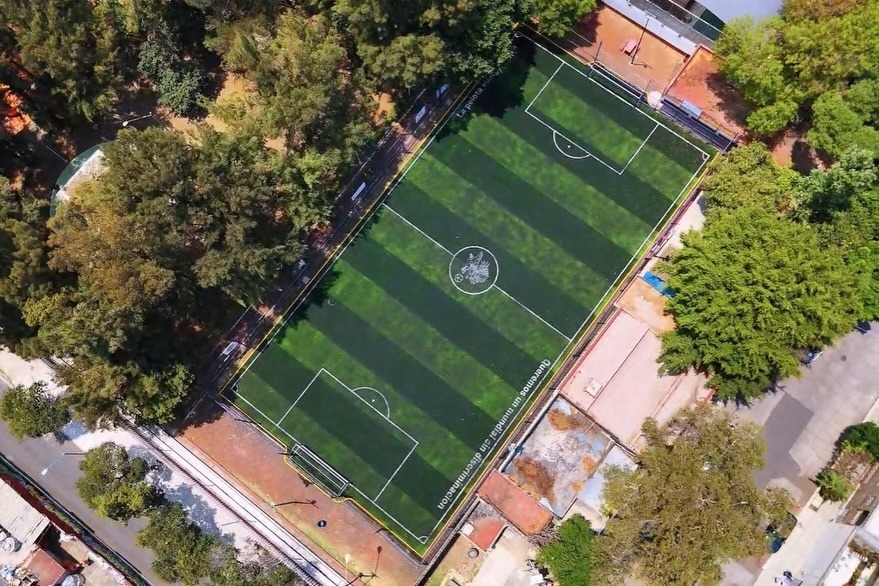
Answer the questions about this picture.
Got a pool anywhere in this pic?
No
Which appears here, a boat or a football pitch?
football pitch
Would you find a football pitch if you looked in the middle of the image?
Yes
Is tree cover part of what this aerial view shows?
Yes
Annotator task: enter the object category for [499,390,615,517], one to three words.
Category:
house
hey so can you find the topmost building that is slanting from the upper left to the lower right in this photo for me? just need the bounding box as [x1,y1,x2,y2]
[597,0,696,57]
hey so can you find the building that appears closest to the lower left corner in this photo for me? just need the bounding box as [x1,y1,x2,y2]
[14,547,76,586]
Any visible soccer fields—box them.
[216,22,715,560]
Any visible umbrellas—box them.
[646,93,664,112]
